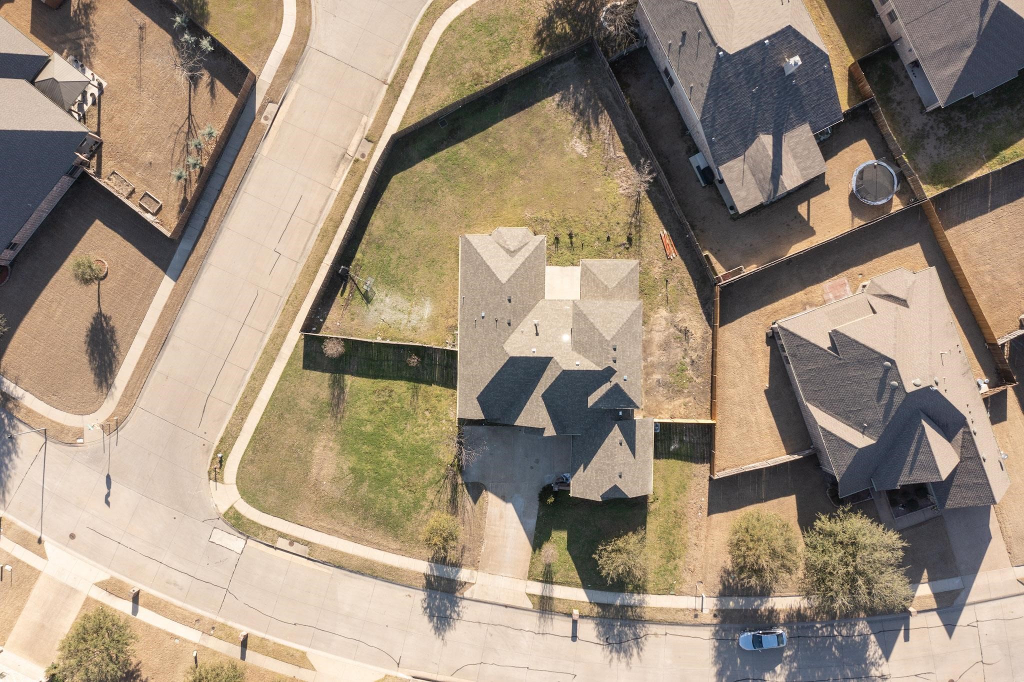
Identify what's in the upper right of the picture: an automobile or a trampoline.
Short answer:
trampoline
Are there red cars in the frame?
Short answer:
No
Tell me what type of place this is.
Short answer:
residential area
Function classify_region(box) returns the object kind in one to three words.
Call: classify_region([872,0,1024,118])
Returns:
house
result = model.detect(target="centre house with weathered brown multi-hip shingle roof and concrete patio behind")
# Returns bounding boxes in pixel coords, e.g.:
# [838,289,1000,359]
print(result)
[456,226,654,500]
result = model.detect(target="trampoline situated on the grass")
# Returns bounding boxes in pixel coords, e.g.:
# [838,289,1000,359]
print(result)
[851,158,908,207]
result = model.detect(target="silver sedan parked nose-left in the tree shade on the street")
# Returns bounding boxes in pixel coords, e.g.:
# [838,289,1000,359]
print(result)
[739,628,789,655]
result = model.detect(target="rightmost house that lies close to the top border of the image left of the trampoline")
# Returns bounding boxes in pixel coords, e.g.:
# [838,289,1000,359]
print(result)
[626,0,844,213]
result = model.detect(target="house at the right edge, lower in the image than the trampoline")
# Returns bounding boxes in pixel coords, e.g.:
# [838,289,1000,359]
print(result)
[766,266,1012,508]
